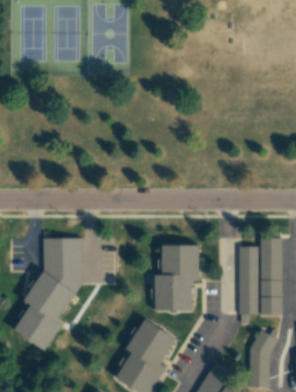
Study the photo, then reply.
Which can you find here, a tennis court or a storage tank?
tennis court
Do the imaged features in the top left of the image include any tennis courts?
Yes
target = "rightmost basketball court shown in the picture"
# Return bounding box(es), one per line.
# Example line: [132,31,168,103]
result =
[92,4,128,63]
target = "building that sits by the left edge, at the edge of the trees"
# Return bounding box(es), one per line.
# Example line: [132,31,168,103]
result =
[12,238,82,350]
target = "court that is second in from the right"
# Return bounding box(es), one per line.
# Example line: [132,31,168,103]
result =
[52,6,80,60]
